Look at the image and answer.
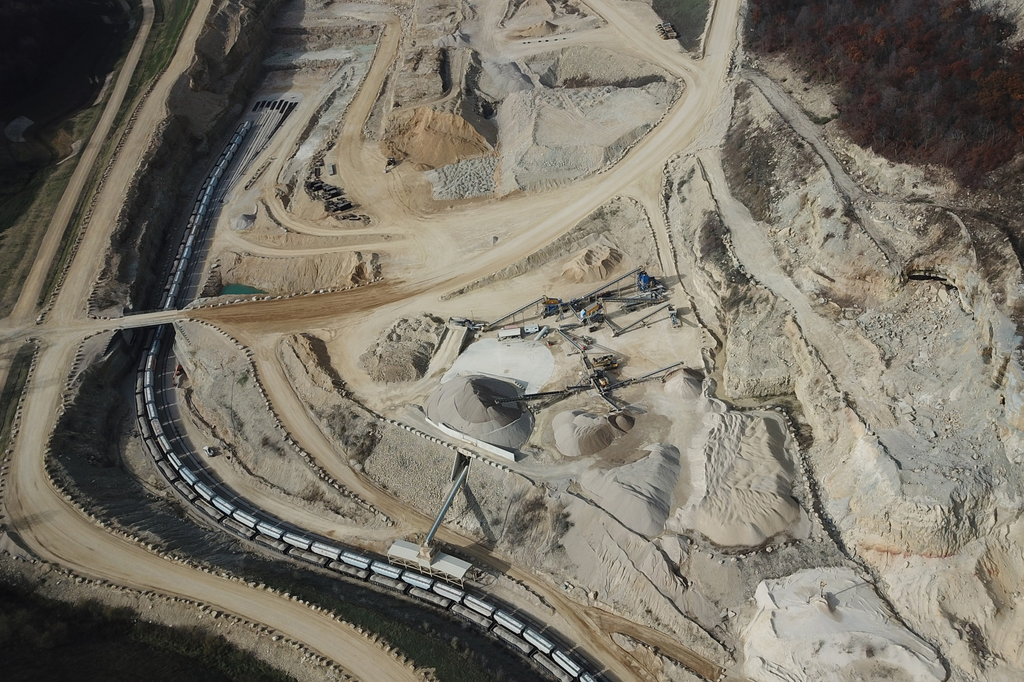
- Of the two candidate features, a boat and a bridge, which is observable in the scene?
bridge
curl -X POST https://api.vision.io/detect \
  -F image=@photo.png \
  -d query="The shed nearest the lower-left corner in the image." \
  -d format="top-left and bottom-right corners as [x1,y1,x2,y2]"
[384,535,470,590]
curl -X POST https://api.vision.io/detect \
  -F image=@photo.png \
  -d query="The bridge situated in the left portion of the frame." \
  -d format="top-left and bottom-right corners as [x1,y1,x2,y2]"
[102,307,190,356]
